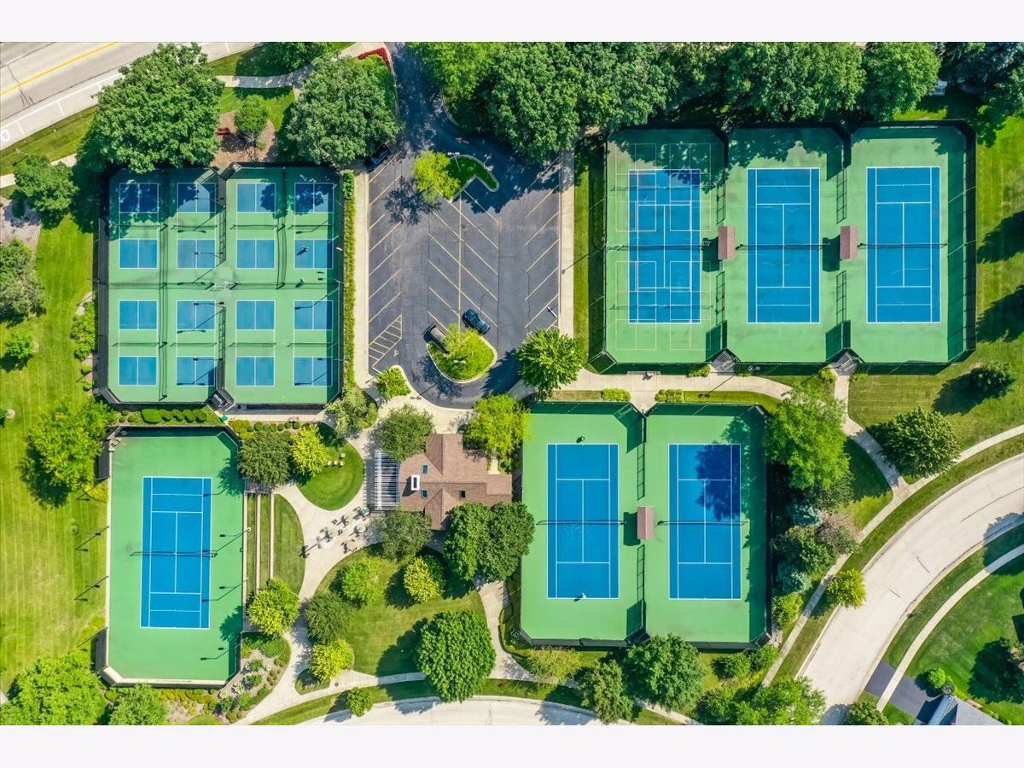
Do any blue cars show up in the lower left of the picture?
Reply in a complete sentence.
No, no blue car appears in the lower left of the picture.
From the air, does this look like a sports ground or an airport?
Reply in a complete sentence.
This looks like a sports ground.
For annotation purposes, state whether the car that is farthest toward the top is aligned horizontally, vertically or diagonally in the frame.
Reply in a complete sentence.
Seen from above, the car that is farthest toward the top lies diagonally.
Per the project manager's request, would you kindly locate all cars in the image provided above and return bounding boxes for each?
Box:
[363,142,393,171]
[421,325,450,351]
[461,308,491,334]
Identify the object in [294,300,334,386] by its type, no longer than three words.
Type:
sports court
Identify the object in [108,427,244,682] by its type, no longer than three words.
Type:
tennis court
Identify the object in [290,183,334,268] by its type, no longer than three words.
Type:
sports court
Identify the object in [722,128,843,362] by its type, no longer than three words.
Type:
tennis court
